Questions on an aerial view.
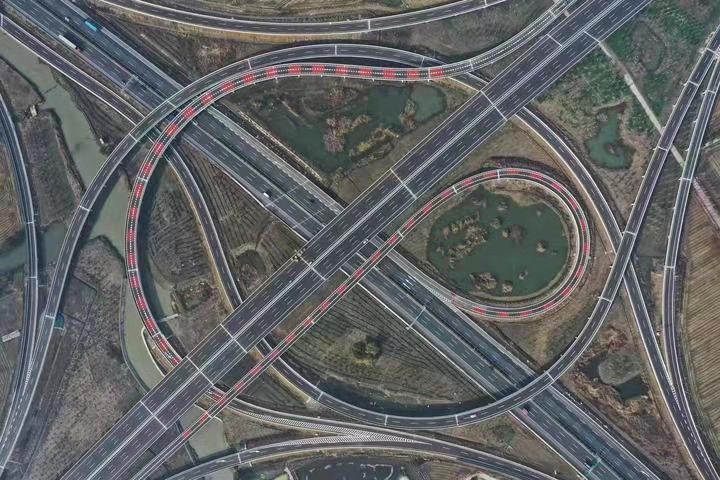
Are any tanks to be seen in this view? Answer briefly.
No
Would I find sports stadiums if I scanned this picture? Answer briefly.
No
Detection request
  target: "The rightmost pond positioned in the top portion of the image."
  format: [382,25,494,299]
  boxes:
[587,105,632,169]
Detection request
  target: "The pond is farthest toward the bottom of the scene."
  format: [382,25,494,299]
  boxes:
[288,455,409,480]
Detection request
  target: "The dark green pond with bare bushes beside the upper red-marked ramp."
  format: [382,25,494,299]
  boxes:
[252,85,446,173]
